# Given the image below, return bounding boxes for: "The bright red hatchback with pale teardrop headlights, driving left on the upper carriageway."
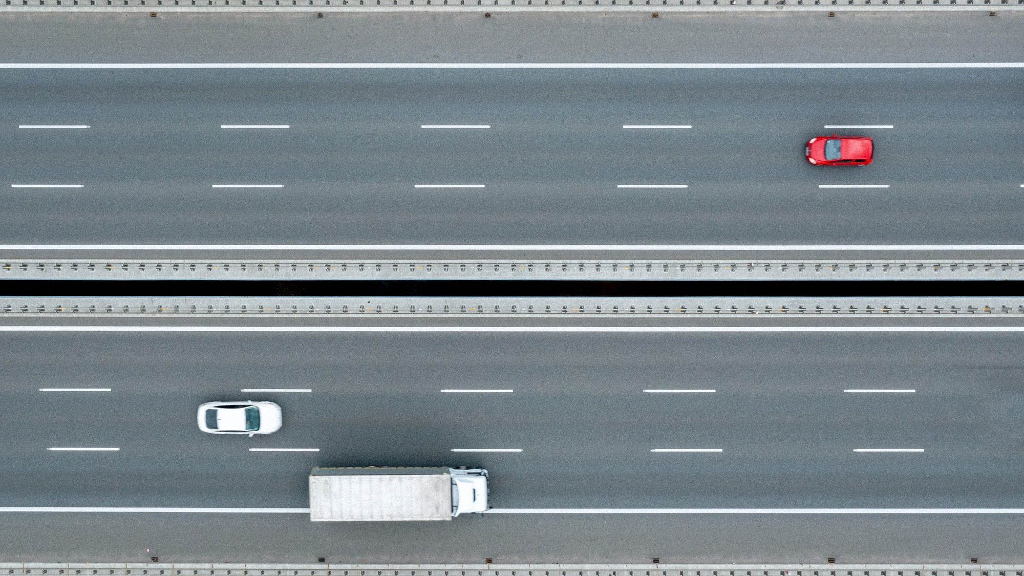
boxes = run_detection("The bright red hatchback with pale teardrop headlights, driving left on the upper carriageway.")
[805,132,874,167]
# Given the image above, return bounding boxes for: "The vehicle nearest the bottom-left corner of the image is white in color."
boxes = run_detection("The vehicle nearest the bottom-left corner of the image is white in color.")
[197,400,283,438]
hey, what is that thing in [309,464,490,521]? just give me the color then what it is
white truck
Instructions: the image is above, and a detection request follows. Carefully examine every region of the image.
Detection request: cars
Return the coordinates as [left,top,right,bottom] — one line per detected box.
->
[805,132,874,167]
[197,400,283,438]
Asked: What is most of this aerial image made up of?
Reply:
paved ground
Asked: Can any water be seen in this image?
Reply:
No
